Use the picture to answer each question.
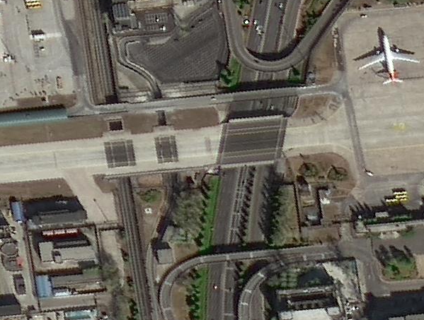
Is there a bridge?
Yes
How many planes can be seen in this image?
1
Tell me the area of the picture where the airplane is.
top right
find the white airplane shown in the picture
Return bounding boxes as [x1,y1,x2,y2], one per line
[364,35,418,85]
